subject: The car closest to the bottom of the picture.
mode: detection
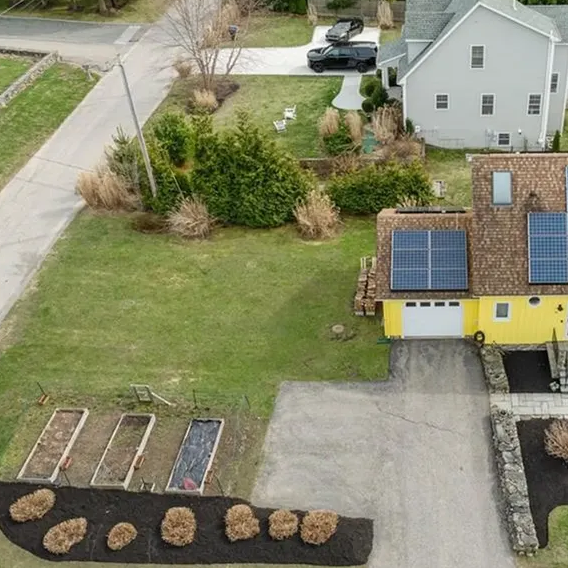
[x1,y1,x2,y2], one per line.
[310,40,377,69]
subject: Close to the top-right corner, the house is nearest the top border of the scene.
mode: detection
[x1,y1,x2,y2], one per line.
[372,0,568,148]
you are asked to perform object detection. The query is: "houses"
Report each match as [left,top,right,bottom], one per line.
[372,0,568,148]
[376,151,568,352]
